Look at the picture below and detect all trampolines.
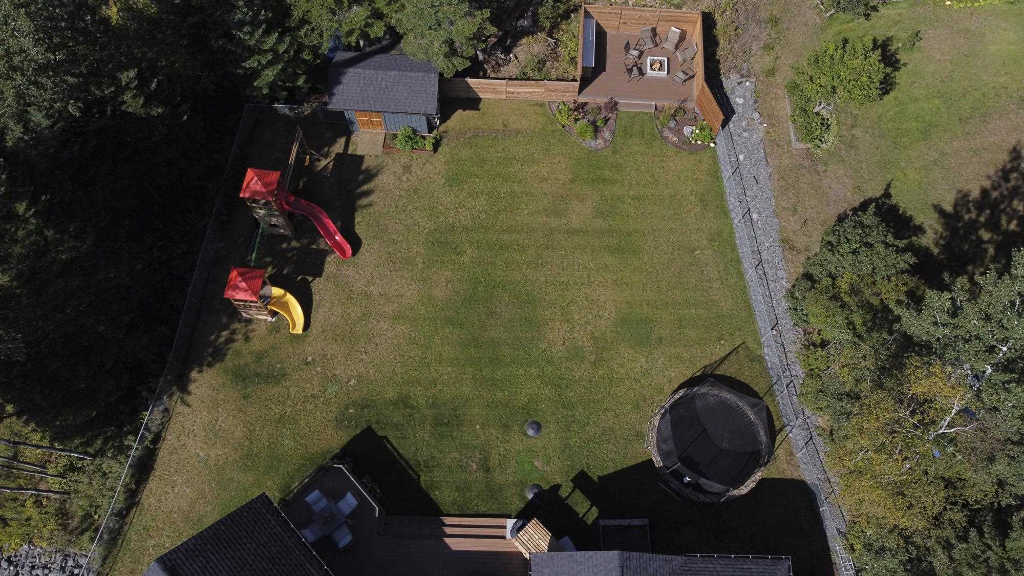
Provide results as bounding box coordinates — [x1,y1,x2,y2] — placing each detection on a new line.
[642,371,788,510]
